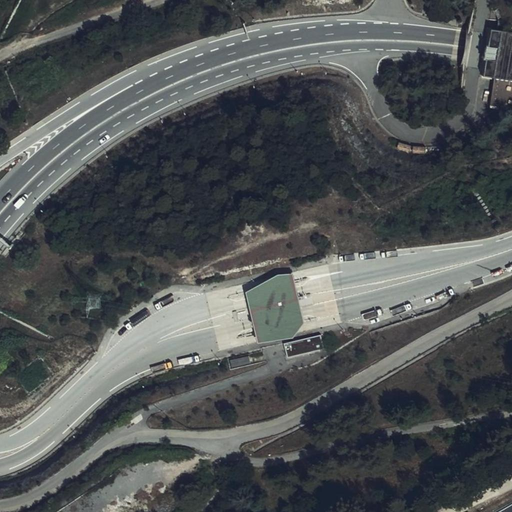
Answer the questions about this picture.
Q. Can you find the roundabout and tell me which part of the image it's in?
top right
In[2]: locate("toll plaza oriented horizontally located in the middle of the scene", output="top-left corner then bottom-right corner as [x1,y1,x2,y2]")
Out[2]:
[203,265,342,352]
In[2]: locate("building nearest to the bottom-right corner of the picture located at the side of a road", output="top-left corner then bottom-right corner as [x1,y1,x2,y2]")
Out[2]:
[284,334,323,358]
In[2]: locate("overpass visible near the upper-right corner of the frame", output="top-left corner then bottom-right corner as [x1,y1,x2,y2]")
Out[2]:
[463,8,490,88]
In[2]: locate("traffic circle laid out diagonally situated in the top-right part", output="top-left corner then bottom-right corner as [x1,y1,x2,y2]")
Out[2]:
[320,57,460,148]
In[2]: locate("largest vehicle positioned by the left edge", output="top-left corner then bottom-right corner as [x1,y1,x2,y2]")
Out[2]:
[12,194,29,210]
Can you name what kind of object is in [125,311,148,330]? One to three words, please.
vehicle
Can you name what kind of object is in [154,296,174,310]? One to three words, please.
vehicle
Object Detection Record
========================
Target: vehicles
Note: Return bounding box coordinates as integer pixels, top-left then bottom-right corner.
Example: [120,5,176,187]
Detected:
[425,297,436,302]
[380,252,398,259]
[12,194,29,210]
[127,414,143,426]
[361,310,382,320]
[125,311,148,330]
[154,296,174,310]
[480,268,504,277]
[338,255,356,263]
[98,135,110,143]
[178,356,200,366]
[484,90,489,102]
[2,193,12,202]
[150,362,172,372]
[359,253,376,262]
[414,146,435,155]
[434,290,455,300]
[389,304,412,316]
[118,327,127,335]
[370,318,380,324]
